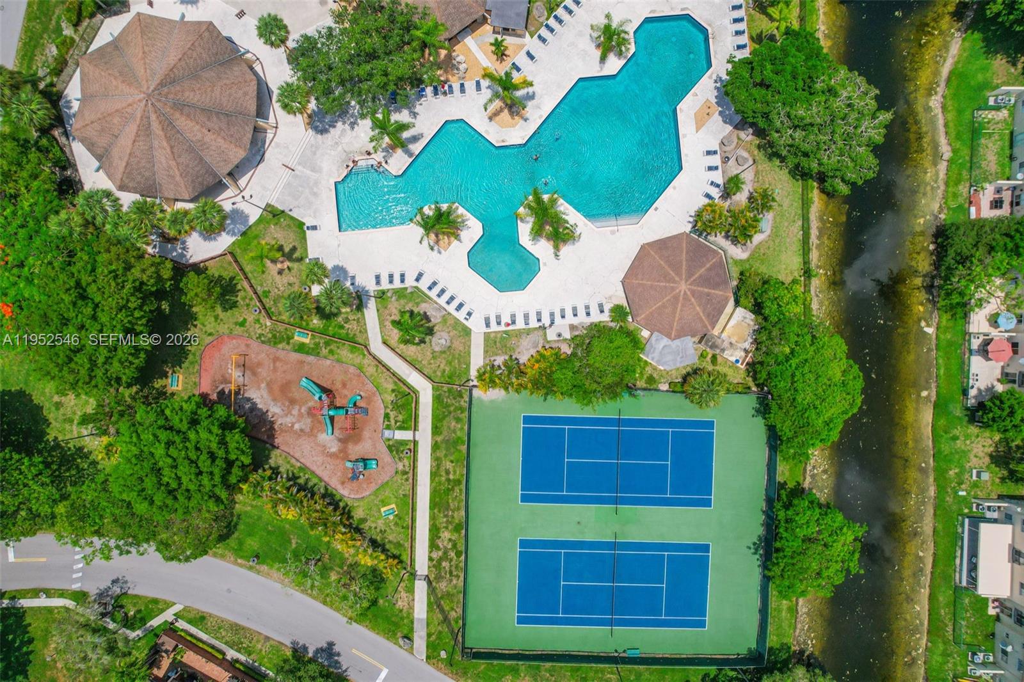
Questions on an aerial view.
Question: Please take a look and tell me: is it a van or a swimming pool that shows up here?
swimming pool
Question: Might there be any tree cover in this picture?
Yes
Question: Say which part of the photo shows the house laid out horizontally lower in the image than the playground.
bottom left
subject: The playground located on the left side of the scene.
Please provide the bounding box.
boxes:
[198,334,397,499]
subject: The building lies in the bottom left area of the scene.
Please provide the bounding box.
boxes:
[130,634,246,682]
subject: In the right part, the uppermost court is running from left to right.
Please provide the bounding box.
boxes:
[469,388,767,528]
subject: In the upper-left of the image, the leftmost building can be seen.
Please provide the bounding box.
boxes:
[72,13,279,215]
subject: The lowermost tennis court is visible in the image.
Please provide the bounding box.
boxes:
[466,525,760,654]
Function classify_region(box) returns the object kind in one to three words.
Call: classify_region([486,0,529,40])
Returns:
shed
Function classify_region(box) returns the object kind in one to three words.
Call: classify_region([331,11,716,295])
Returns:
swimming pool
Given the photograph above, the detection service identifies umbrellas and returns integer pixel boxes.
[985,338,1011,363]
[990,311,1015,332]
